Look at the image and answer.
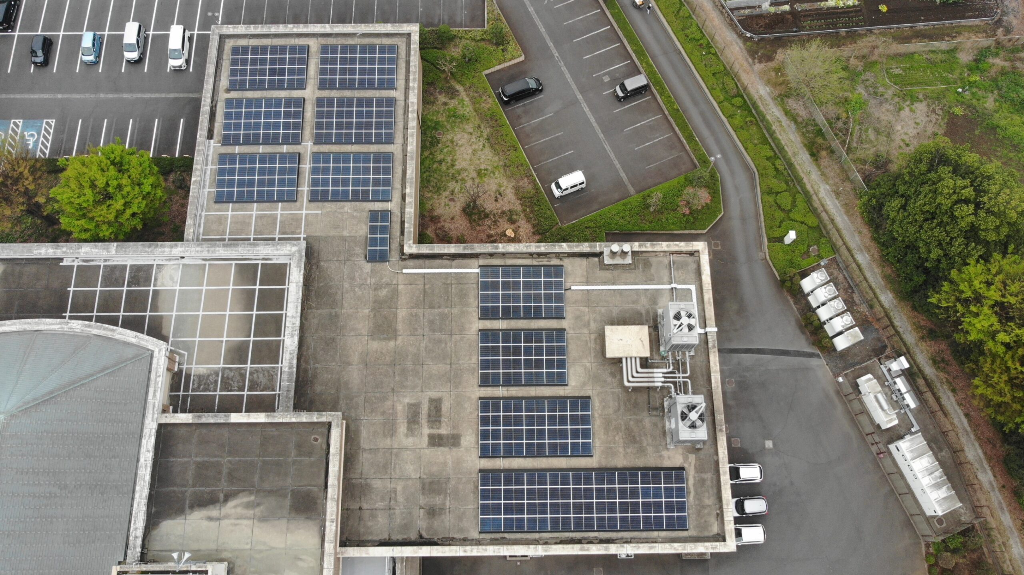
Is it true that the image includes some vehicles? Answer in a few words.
Yes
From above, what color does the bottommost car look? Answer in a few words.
white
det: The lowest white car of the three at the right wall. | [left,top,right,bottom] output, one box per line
[733,523,768,547]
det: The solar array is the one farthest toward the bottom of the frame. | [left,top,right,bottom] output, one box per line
[479,466,688,533]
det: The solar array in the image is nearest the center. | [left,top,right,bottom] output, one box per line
[479,267,565,319]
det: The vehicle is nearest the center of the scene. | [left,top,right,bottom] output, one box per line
[548,169,588,201]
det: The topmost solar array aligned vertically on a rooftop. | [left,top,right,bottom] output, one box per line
[367,212,391,263]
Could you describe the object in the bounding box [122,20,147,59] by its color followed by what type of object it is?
white vehicle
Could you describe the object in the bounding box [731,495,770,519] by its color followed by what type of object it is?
white car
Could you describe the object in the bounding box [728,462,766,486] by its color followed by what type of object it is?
white car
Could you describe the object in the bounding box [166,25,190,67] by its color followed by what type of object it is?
white vehicle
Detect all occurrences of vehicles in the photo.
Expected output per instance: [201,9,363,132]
[166,25,190,67]
[733,523,768,547]
[29,31,53,63]
[122,20,147,59]
[548,169,588,201]
[499,78,544,107]
[728,462,766,486]
[79,30,102,62]
[731,495,770,519]
[614,73,649,102]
